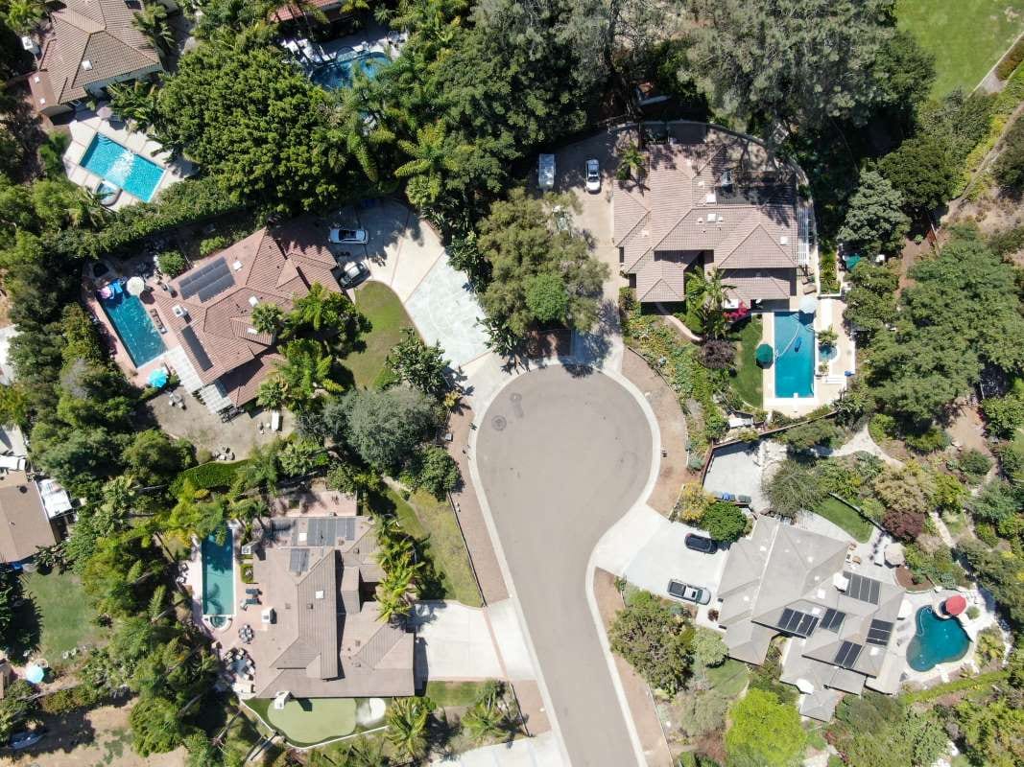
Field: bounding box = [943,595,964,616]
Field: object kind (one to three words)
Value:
umbrella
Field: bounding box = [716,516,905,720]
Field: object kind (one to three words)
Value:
house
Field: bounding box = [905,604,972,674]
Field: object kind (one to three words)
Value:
swimming pool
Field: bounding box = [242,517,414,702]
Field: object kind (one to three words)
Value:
house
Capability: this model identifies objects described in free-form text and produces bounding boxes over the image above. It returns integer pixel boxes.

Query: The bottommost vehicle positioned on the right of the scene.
[665,578,711,605]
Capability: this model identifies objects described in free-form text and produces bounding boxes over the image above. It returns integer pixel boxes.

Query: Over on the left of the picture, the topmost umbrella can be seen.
[99,106,115,121]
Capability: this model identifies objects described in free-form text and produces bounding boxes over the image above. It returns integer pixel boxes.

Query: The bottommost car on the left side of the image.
[338,260,371,288]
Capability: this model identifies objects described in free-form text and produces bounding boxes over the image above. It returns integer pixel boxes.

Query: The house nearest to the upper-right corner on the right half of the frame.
[613,144,812,309]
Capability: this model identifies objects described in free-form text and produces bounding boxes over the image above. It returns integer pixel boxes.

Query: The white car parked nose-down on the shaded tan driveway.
[585,158,601,193]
